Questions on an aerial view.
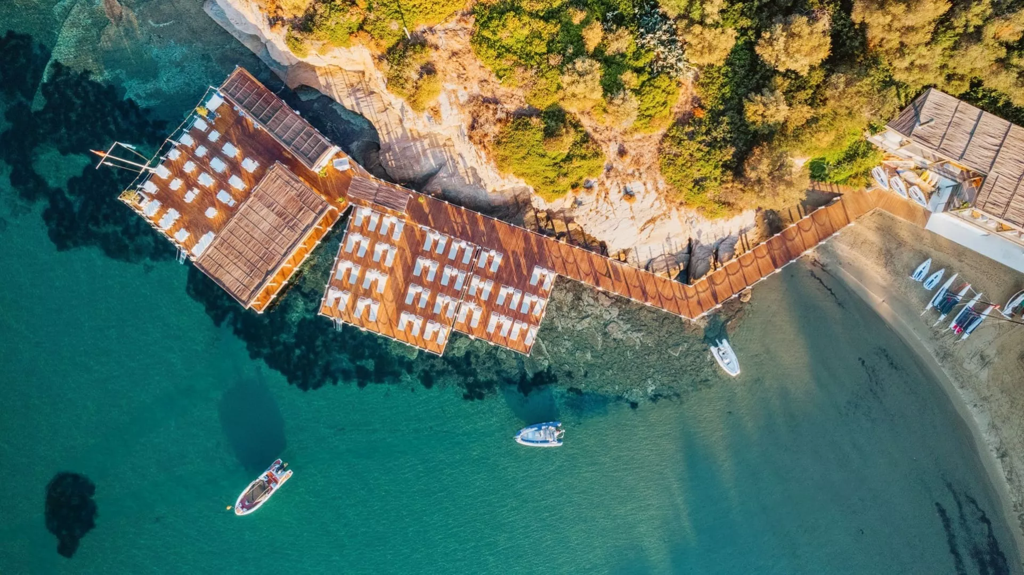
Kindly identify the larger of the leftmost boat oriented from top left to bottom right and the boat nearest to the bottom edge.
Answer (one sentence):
The boat nearest to the bottom edge is larger than the leftmost boat oriented from top left to bottom right.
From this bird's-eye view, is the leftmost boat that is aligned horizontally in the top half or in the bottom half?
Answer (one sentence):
The bottom half of the photo is where the leftmost boat that is aligned horizontally is.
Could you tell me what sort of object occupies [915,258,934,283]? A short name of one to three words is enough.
boat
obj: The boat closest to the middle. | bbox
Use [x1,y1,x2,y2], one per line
[514,420,563,445]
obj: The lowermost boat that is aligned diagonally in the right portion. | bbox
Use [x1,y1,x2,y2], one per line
[710,338,738,375]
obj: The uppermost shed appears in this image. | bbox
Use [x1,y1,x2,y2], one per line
[213,62,343,173]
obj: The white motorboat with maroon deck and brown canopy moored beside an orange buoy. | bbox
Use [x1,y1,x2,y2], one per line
[237,458,293,514]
